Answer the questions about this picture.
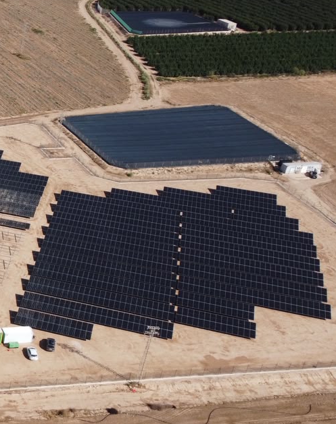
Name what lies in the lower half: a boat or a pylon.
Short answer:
pylon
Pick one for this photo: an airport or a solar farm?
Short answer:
solar farm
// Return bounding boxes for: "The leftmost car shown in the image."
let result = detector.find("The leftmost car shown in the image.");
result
[24,345,38,361]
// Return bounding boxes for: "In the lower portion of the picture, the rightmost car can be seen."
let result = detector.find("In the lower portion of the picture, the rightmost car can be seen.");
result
[44,334,57,352]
